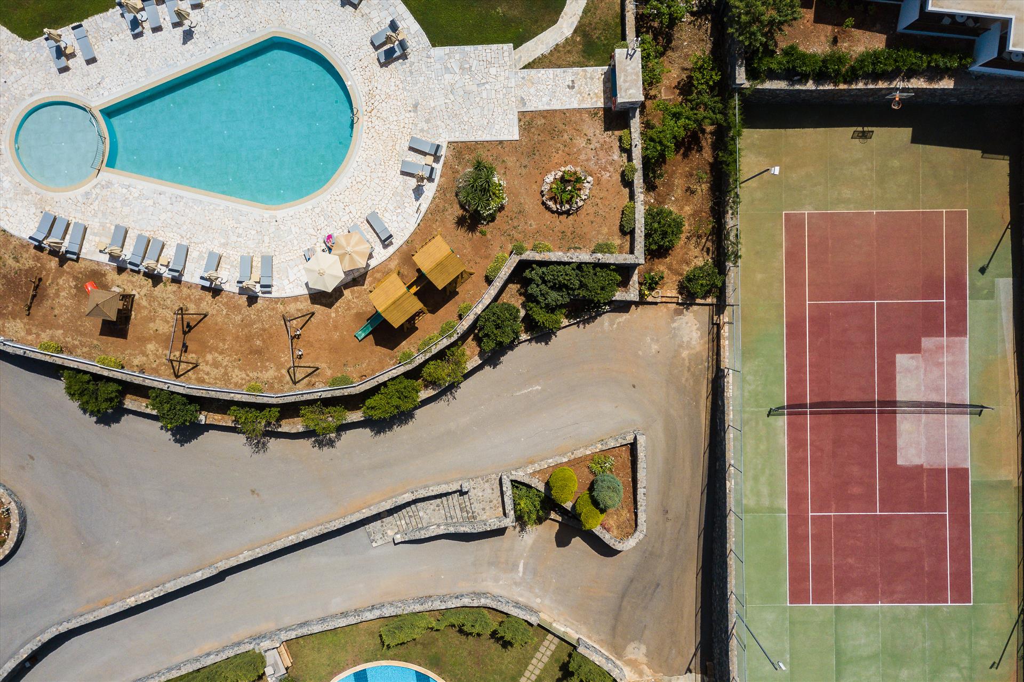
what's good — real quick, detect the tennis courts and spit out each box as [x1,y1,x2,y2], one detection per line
[721,104,1024,682]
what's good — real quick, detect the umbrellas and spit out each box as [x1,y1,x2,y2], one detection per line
[45,238,68,254]
[383,29,399,45]
[44,28,72,48]
[122,0,148,21]
[301,252,344,294]
[414,168,428,186]
[240,279,261,296]
[106,246,130,262]
[328,230,372,272]
[174,8,197,30]
[142,259,168,274]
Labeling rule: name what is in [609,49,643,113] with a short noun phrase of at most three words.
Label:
shed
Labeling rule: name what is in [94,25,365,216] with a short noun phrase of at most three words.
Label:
swimming pool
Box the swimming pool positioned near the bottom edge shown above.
[325,661,450,682]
